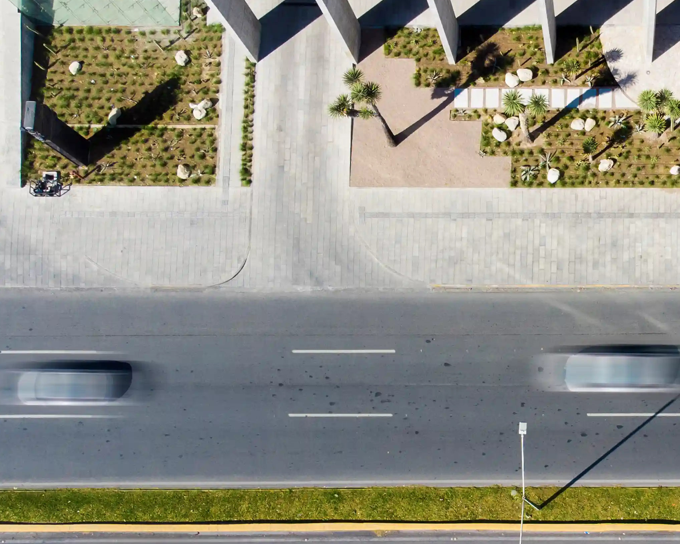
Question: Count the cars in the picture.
two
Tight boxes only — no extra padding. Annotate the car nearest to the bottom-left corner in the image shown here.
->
[18,366,116,411]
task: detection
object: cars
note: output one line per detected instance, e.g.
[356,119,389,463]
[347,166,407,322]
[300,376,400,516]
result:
[564,351,660,396]
[18,366,116,411]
